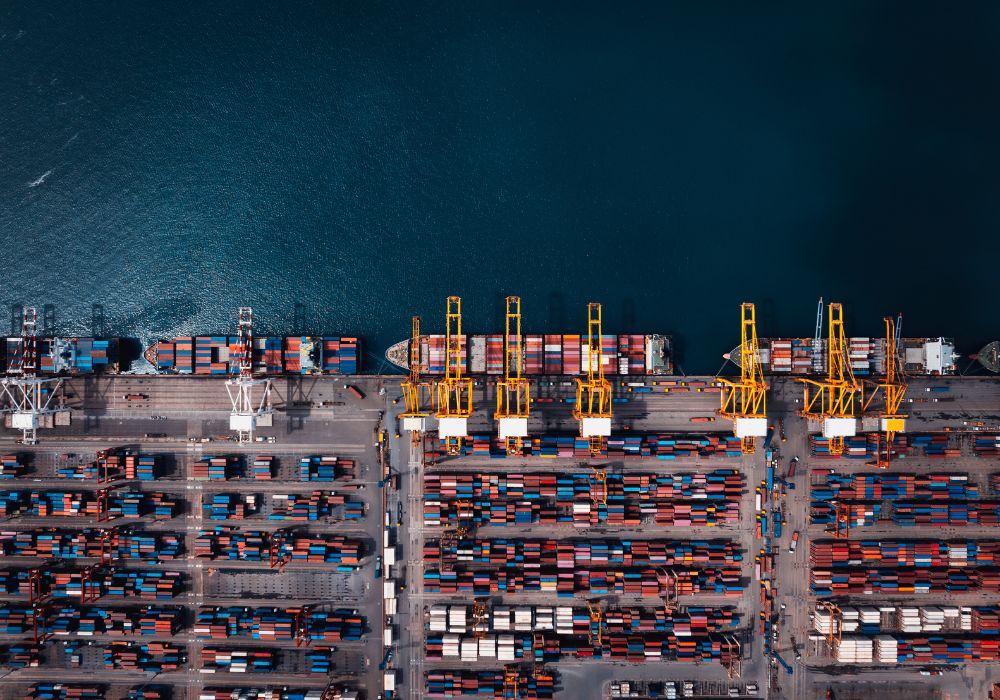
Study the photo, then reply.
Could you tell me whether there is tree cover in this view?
No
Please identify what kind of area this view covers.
port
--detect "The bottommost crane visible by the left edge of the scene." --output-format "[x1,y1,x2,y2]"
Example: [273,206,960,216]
[34,597,65,641]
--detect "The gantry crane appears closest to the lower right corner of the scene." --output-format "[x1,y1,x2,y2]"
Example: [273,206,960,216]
[814,594,843,643]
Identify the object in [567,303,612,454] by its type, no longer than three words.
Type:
container crane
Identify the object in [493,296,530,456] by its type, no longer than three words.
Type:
container crane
